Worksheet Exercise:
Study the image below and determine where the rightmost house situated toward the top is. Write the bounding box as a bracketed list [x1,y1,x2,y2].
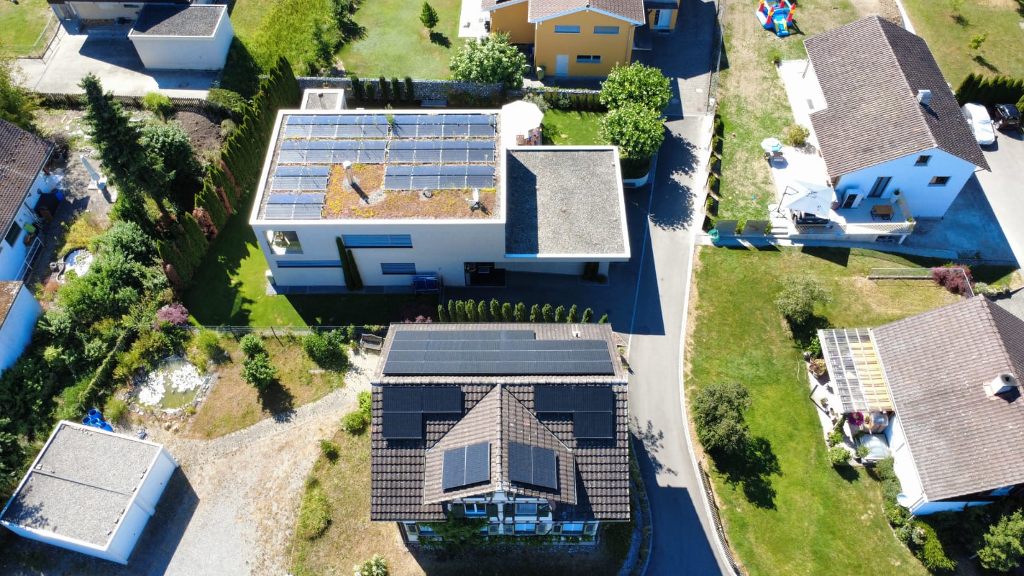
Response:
[796,15,992,223]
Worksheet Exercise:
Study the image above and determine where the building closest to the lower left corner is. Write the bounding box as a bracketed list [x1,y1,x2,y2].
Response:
[0,422,180,564]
